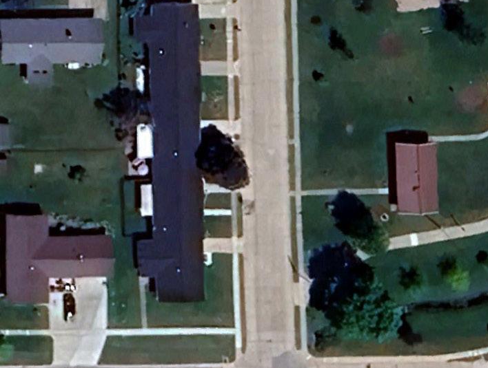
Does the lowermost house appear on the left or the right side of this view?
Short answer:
left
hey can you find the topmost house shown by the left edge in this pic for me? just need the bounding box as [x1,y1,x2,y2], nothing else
[0,16,108,85]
